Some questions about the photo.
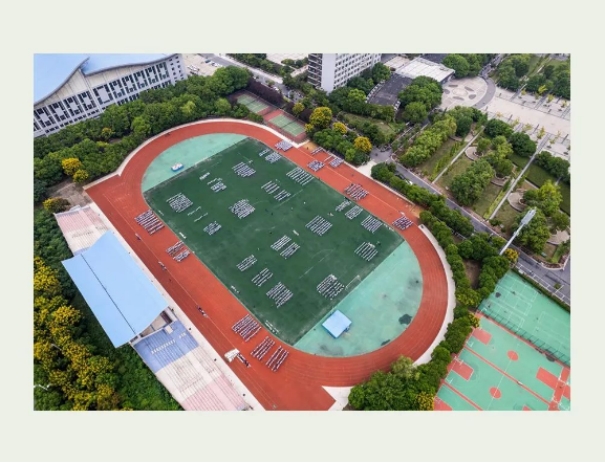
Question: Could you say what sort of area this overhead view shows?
sports ground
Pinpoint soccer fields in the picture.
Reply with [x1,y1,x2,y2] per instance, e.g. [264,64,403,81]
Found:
[143,137,404,346]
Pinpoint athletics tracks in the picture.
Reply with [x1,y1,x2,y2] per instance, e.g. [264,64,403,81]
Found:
[84,123,451,450]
